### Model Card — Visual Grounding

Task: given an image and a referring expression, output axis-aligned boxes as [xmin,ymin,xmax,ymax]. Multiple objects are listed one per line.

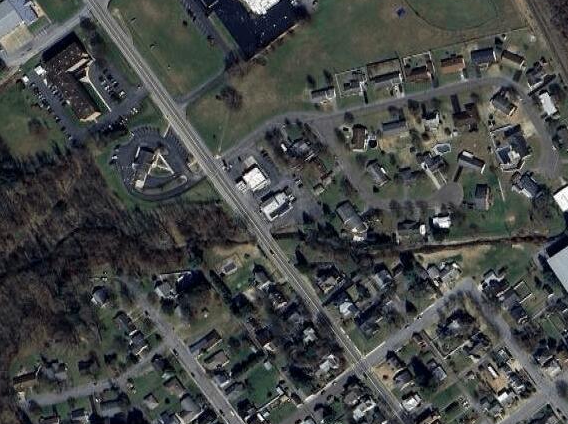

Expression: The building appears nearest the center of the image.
[262,191,294,221]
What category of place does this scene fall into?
residential area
